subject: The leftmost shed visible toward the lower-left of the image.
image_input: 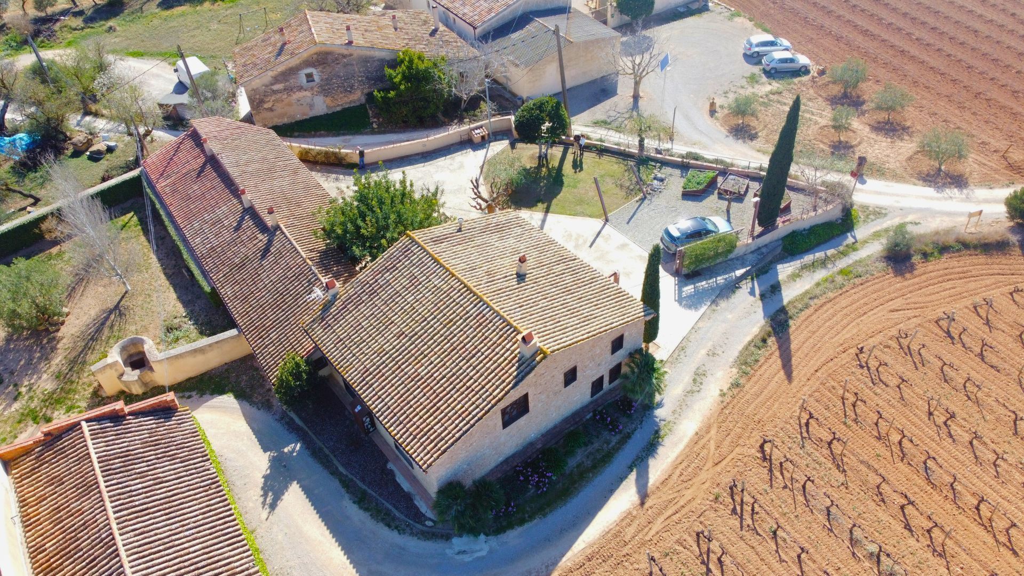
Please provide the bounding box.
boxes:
[0,385,260,576]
